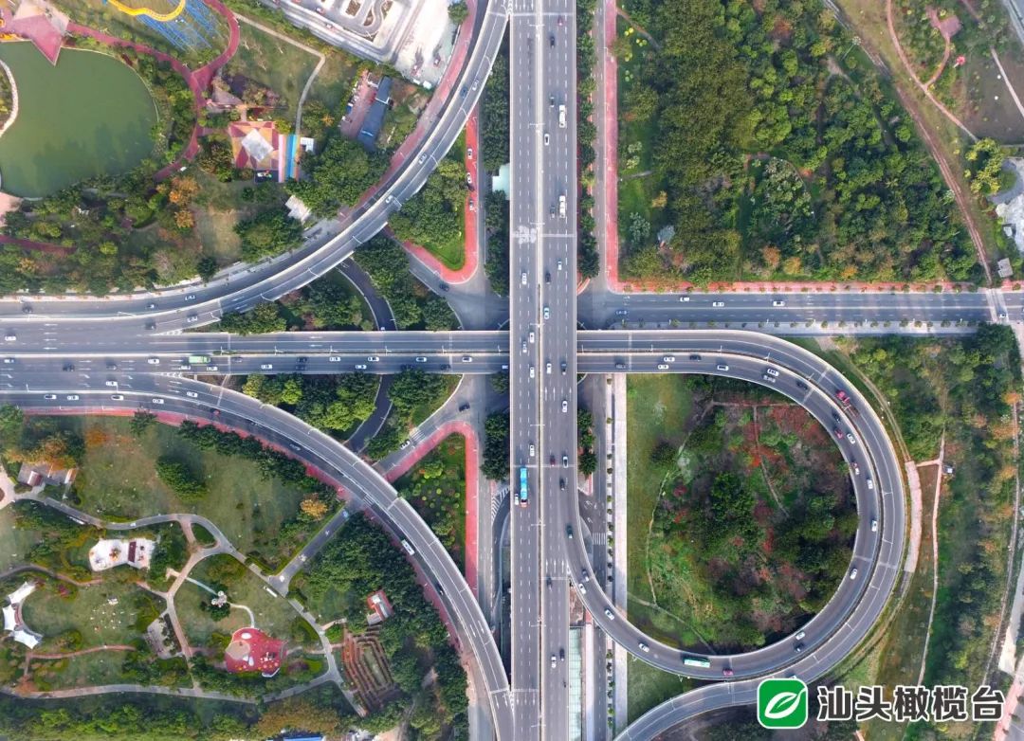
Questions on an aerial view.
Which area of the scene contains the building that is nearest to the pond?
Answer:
top left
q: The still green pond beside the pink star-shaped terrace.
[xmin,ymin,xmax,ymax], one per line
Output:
[0,39,160,196]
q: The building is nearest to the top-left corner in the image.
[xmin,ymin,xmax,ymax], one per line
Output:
[207,89,245,112]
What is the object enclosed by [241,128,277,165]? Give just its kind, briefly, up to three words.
building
